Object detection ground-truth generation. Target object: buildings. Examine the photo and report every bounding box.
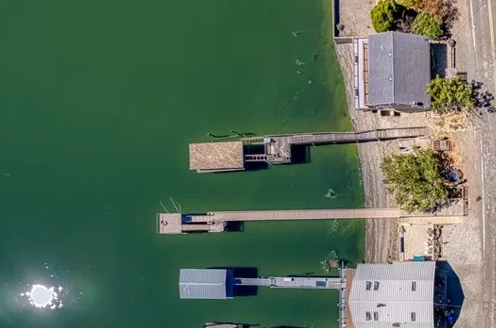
[179,269,235,299]
[189,142,250,174]
[354,31,430,113]
[347,261,441,328]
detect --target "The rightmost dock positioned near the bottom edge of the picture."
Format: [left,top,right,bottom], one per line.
[235,265,350,328]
